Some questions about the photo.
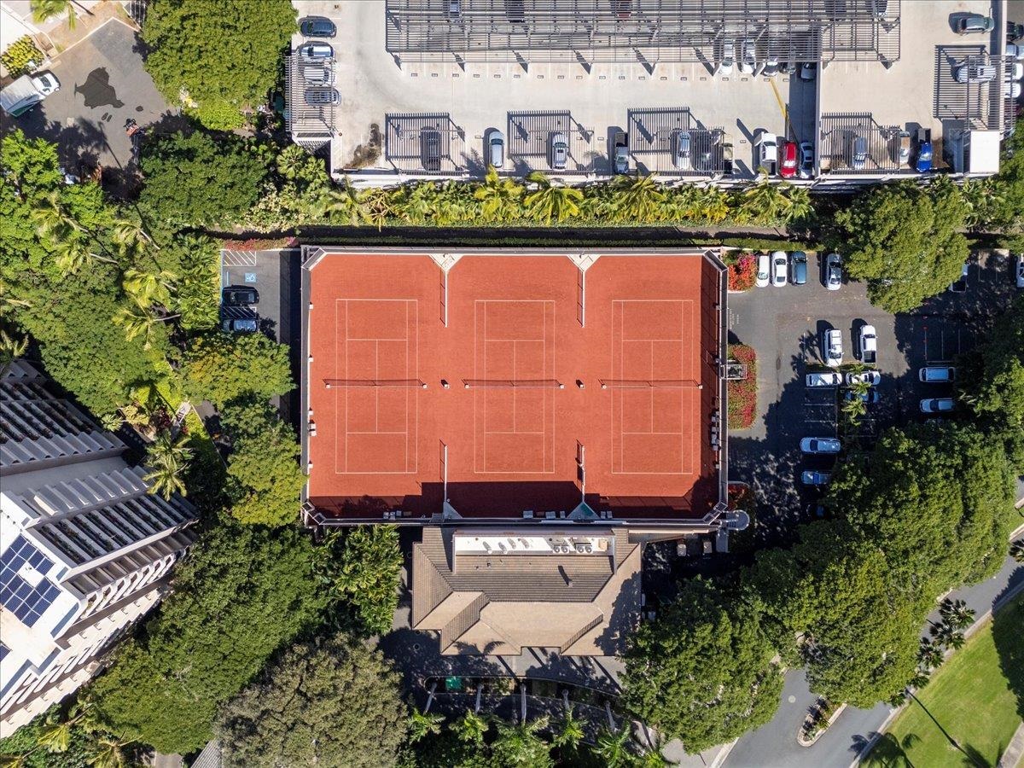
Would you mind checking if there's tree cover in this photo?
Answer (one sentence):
Yes, tree cover can be seen from above here.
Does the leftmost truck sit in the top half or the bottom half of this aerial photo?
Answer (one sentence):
Seen from above, the leftmost truck lies in the top half of the view.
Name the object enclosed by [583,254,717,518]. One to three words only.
tennis court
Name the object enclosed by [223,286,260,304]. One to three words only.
car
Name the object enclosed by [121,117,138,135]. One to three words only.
work vehicle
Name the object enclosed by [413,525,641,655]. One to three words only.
building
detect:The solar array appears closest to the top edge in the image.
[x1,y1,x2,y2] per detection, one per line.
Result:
[0,534,59,628]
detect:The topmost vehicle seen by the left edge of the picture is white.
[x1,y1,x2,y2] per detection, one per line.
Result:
[0,73,59,115]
